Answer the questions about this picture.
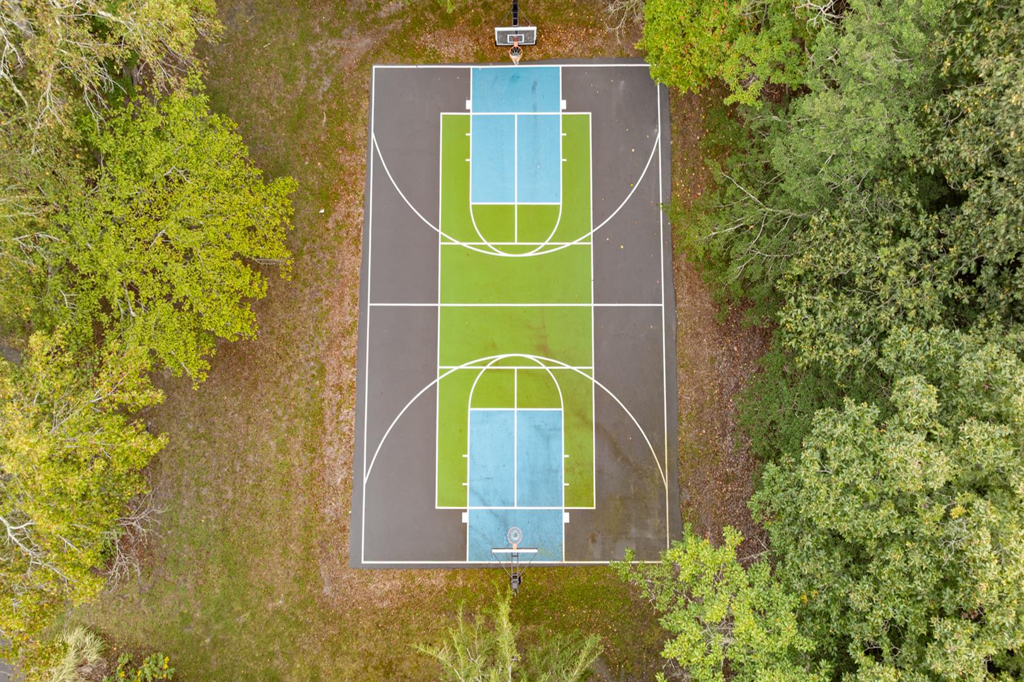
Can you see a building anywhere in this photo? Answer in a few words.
No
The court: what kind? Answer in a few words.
basketball court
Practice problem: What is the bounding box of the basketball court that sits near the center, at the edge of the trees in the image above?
[349,57,682,570]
